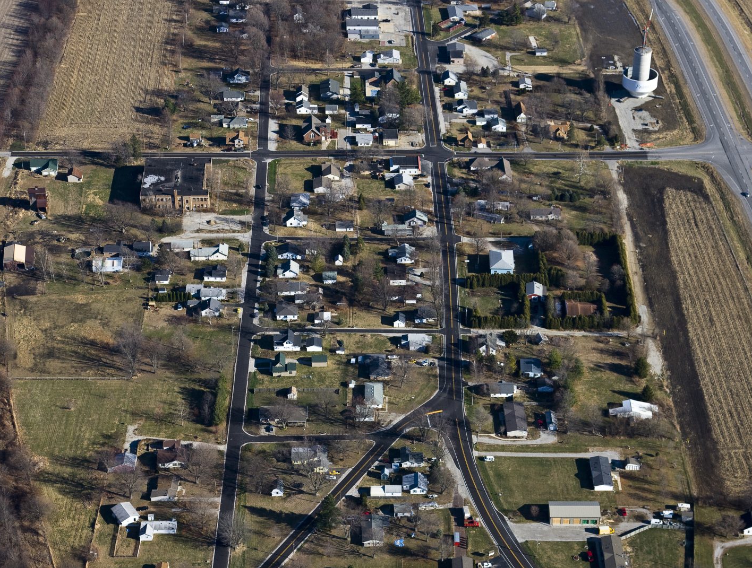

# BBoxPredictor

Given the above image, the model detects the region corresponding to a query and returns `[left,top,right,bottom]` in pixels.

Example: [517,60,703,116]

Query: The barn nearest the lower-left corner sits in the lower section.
[113,502,139,527]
